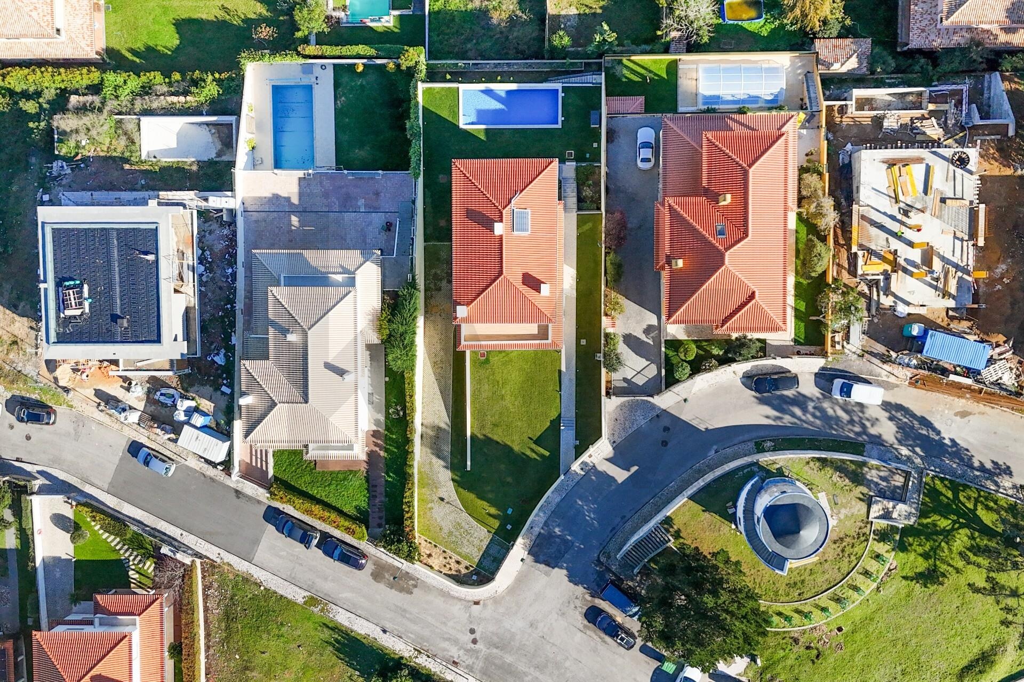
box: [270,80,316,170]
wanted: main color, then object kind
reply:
blue swimming pool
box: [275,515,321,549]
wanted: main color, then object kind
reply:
blue car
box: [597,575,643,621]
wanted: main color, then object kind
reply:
blue van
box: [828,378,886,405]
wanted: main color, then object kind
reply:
white vehicle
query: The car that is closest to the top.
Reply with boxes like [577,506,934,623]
[635,128,657,171]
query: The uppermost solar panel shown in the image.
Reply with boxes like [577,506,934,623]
[511,192,531,234]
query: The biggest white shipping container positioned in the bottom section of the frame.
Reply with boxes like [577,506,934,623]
[177,422,234,462]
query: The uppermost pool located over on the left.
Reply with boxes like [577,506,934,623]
[344,0,393,26]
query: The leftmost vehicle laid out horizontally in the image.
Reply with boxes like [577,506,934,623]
[16,403,61,425]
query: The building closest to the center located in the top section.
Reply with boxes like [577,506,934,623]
[451,157,564,351]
